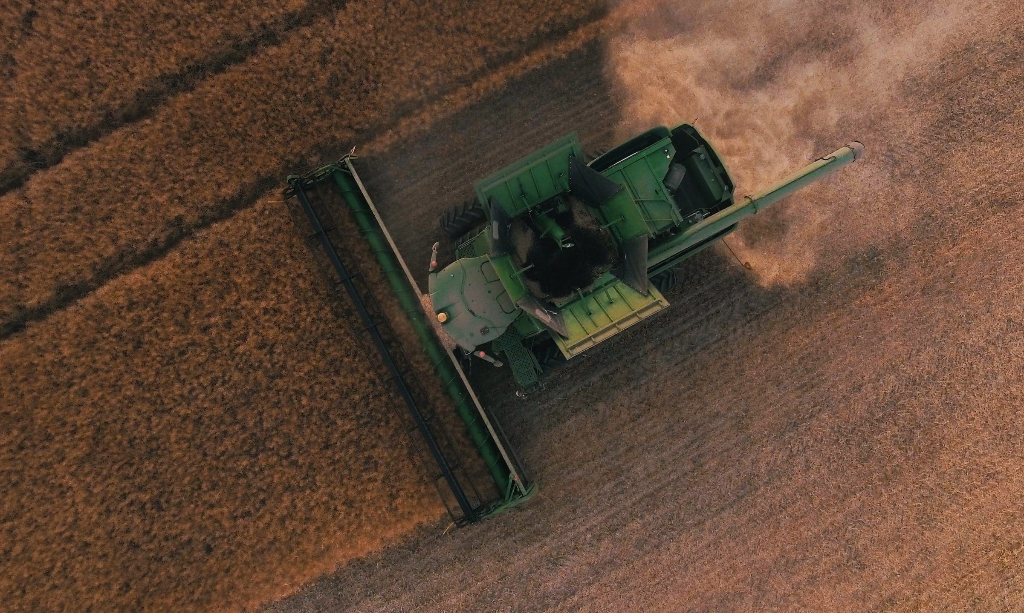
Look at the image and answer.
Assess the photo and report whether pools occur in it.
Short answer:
No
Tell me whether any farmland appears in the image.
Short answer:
Yes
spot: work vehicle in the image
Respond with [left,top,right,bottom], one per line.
[270,118,860,535]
